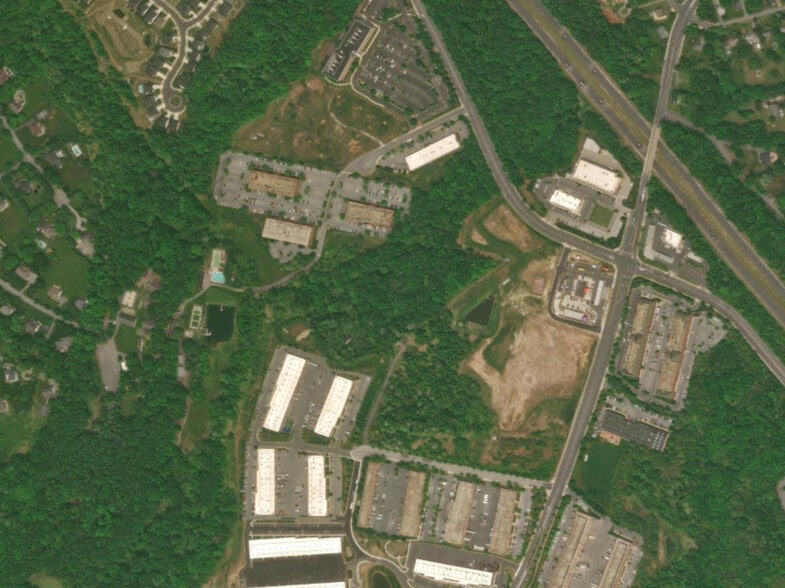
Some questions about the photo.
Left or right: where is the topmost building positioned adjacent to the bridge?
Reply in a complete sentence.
It is on the right.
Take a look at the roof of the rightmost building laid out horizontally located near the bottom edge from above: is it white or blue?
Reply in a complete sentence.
The color of the roof of the rightmost building laid out horizontally located near the bottom edge is white.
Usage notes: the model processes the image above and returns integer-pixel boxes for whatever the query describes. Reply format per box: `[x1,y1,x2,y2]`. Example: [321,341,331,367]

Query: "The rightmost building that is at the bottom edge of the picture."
[596,538,633,588]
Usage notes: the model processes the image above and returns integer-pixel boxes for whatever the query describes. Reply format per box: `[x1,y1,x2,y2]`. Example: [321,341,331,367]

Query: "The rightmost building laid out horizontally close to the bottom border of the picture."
[414,559,493,586]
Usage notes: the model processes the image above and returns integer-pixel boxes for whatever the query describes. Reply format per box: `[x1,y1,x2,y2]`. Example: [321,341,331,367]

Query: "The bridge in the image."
[641,127,662,176]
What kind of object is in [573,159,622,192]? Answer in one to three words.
building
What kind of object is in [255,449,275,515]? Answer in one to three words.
building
